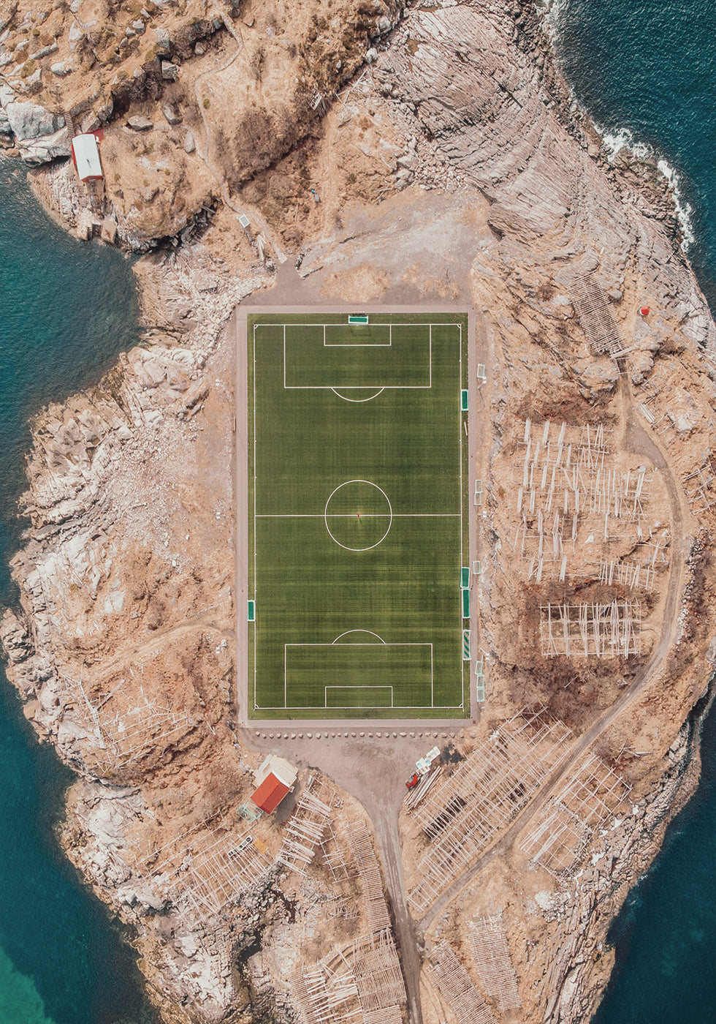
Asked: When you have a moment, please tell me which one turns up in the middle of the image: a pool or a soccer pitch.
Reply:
soccer pitch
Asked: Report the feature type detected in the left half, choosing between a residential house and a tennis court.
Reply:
residential house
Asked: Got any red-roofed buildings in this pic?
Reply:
Yes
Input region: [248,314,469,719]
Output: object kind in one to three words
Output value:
soccer field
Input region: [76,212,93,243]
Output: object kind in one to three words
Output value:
pier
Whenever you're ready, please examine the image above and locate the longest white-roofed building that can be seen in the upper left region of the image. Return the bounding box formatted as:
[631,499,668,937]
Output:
[70,133,106,185]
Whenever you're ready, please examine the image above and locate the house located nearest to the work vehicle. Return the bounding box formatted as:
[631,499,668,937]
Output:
[251,771,291,814]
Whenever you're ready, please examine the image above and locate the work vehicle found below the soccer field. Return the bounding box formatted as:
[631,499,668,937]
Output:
[404,773,421,792]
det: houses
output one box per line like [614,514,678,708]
[251,771,291,814]
[70,133,106,185]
